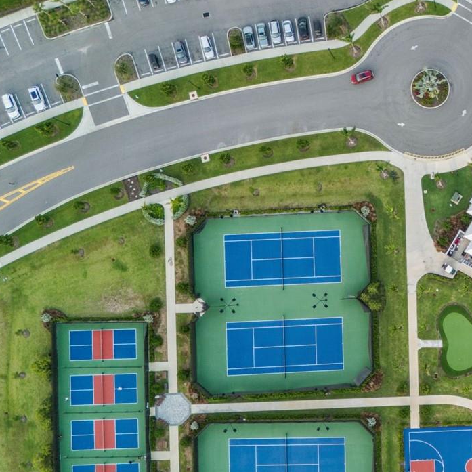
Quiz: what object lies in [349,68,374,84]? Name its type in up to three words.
car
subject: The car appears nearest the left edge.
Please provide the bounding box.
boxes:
[0,92,19,119]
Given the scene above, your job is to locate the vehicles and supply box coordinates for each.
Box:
[171,37,188,63]
[0,92,19,119]
[295,14,309,40]
[146,51,160,70]
[25,84,46,111]
[197,33,214,60]
[268,17,283,44]
[349,68,374,84]
[310,15,322,38]
[241,24,255,51]
[254,19,269,48]
[280,17,294,42]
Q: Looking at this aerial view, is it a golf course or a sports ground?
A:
sports ground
